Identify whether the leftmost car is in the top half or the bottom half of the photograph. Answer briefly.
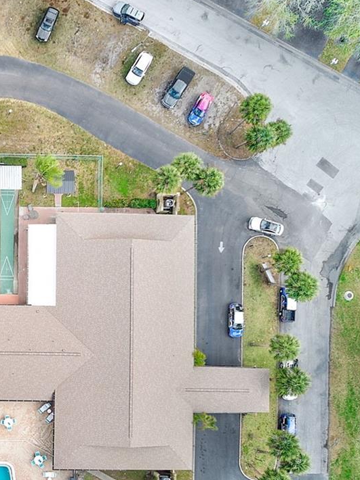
top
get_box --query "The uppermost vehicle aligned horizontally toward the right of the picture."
[247,217,285,236]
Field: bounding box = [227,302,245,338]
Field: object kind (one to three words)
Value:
car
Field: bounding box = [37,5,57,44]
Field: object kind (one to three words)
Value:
car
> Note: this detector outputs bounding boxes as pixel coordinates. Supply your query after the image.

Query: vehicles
[227,302,245,338]
[247,217,285,236]
[163,64,194,109]
[37,5,57,44]
[278,287,298,324]
[278,411,298,441]
[110,1,147,26]
[187,91,212,127]
[127,50,151,87]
